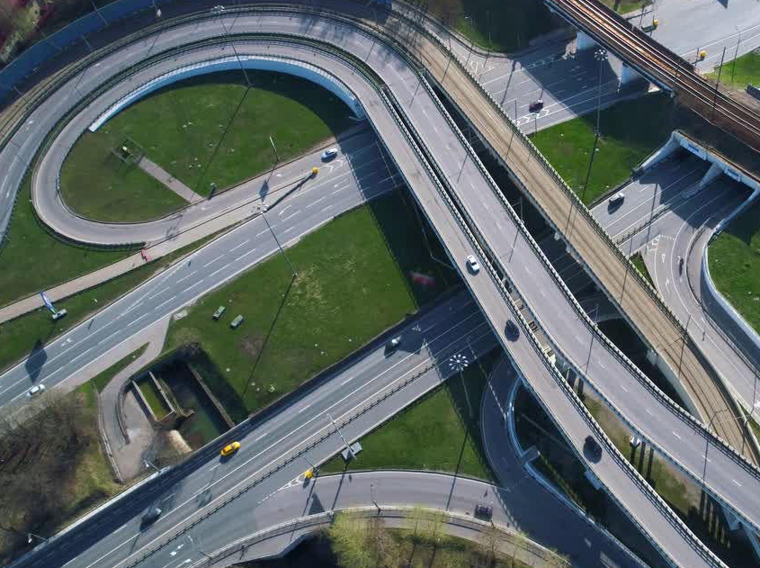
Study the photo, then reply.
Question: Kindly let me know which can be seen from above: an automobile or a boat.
automobile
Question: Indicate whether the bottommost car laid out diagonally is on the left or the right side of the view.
left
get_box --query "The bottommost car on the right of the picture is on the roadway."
[472,504,496,516]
